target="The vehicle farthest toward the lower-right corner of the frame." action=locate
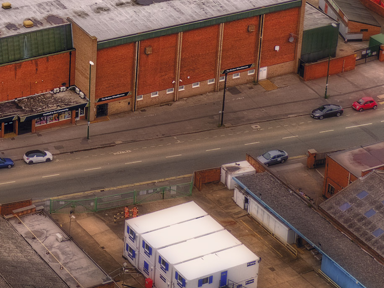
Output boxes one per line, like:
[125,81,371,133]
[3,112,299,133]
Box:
[265,151,290,165]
